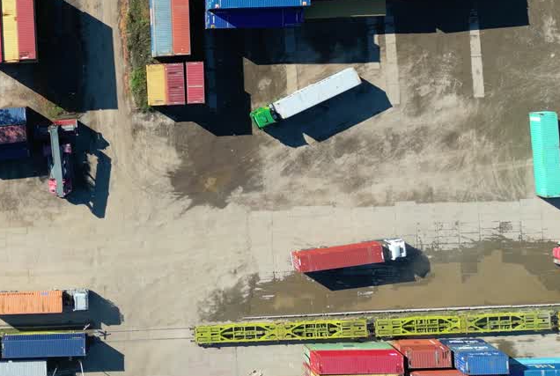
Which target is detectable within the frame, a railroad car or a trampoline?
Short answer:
railroad car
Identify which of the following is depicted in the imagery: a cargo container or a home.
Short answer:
cargo container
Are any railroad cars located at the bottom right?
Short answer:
Yes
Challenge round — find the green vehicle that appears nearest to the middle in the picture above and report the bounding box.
[249,99,277,129]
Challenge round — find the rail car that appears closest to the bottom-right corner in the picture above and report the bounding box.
[376,310,558,335]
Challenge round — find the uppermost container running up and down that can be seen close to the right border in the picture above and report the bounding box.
[530,112,560,197]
